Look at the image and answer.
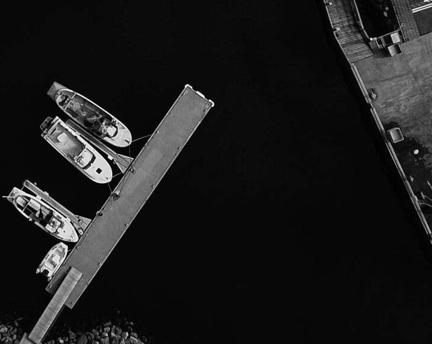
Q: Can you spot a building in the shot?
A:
No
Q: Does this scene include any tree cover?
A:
No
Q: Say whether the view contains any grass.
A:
No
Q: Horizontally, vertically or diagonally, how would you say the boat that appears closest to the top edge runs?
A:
diagonally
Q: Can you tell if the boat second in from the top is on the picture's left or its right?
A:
left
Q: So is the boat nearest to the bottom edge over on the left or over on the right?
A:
left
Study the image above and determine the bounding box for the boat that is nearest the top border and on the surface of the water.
[47,82,132,148]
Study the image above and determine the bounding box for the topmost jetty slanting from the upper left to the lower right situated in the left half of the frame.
[66,119,134,174]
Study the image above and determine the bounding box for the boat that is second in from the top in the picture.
[40,117,113,184]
